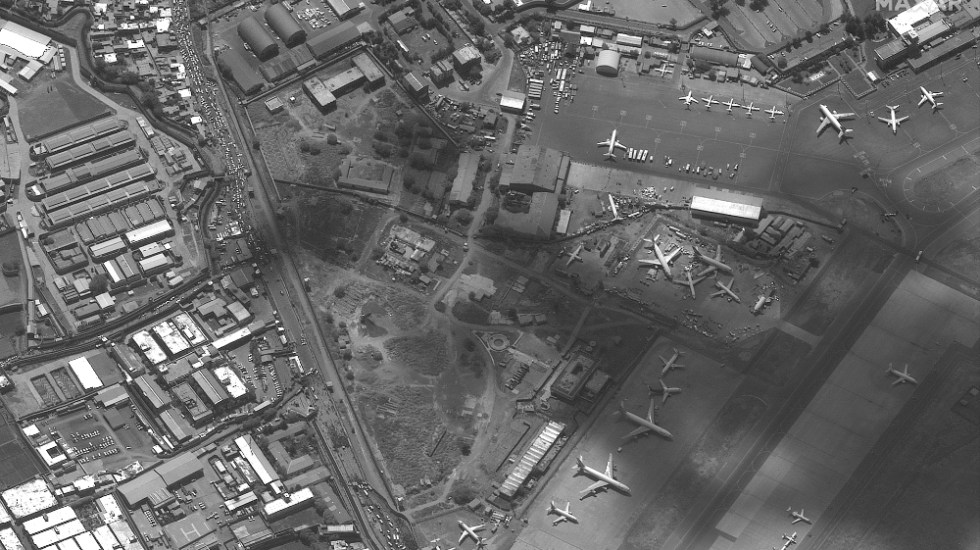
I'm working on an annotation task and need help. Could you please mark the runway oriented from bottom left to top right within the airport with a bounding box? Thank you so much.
[699,271,980,550]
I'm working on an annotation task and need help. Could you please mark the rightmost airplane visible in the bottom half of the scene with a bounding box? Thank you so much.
[887,364,918,385]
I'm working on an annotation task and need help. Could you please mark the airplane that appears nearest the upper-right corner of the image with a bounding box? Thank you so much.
[919,87,943,111]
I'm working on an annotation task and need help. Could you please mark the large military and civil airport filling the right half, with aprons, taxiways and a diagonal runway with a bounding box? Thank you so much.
[411,38,980,550]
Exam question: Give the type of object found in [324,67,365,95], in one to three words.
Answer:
building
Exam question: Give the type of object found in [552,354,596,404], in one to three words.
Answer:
building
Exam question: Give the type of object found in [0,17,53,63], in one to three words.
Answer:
hangar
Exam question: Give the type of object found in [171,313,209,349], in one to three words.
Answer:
house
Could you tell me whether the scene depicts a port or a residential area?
residential area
